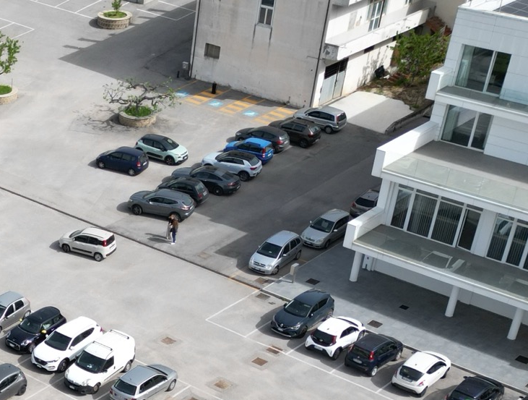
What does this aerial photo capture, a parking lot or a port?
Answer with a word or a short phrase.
parking lot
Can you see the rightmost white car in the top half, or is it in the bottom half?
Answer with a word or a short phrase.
bottom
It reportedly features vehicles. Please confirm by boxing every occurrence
[443,372,504,400]
[134,131,191,165]
[147,176,206,203]
[288,104,346,136]
[32,315,104,372]
[0,288,35,332]
[343,330,403,376]
[134,185,200,220]
[223,140,276,168]
[171,164,238,198]
[0,359,29,400]
[60,225,120,262]
[202,151,262,183]
[249,227,306,273]
[302,202,358,246]
[62,327,139,393]
[391,349,454,397]
[106,360,182,400]
[239,130,298,160]
[97,146,151,175]
[6,303,70,351]
[263,119,324,150]
[307,314,368,359]
[273,285,336,336]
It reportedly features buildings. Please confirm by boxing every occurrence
[193,0,466,108]
[346,0,528,339]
